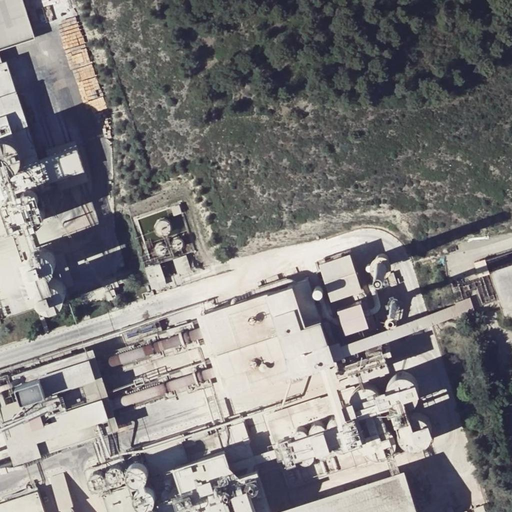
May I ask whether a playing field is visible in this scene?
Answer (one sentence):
No, there appears to be no playing field in this shot.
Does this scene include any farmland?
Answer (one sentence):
No, there is no farmland in the image.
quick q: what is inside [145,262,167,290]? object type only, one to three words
building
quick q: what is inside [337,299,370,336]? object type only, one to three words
shed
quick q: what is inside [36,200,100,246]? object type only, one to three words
shed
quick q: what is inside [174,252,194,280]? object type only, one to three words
building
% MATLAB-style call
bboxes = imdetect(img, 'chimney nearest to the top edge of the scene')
[368,246,394,290]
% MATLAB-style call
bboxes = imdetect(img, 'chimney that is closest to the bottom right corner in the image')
[382,290,402,330]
